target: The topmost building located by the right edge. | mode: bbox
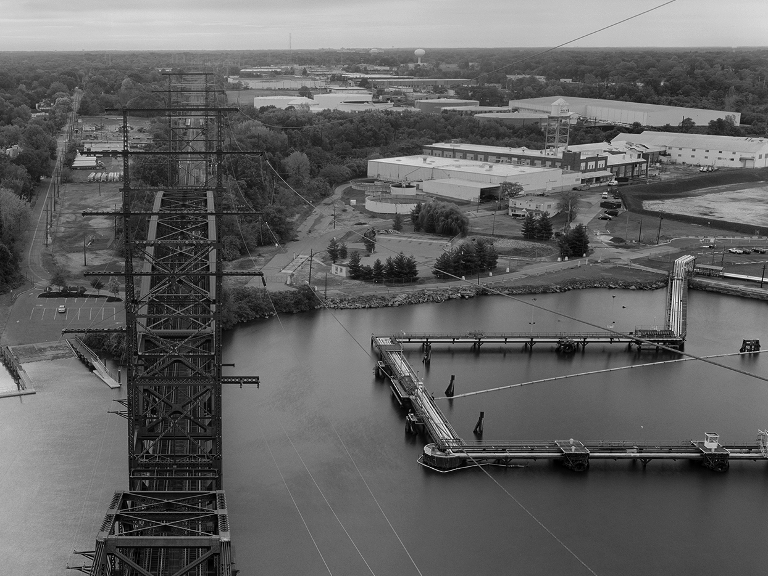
[509,97,741,130]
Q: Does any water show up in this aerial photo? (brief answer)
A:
Yes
